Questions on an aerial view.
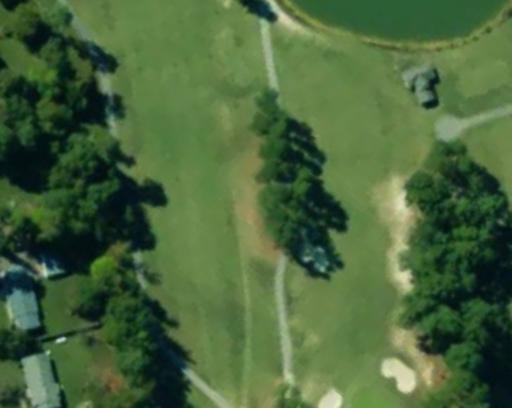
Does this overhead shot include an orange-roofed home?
No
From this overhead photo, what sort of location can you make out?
golf course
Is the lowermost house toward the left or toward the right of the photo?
left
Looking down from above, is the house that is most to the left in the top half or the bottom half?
bottom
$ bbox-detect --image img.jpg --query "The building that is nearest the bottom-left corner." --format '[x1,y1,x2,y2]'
[23,350,62,408]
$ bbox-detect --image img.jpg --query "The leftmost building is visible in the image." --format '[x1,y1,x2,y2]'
[3,268,40,329]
